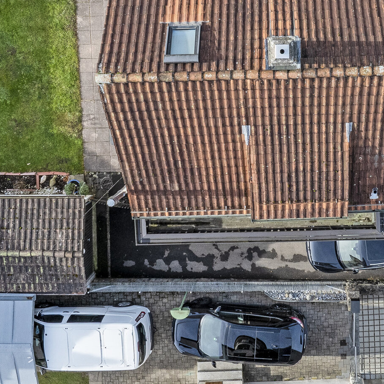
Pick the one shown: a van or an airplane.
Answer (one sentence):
There is a van in the scene.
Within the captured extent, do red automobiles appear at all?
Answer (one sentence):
No, there appears to be no red automobile in this shot.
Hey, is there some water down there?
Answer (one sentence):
No, the scene doesn't show any water.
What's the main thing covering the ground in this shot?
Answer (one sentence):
The bulk of the photo consists of buildings.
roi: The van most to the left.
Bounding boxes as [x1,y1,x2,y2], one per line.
[33,309,155,382]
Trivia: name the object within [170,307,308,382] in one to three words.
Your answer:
car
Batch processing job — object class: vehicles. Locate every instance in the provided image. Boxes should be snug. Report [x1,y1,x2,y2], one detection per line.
[303,238,384,281]
[33,309,155,382]
[170,307,308,382]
